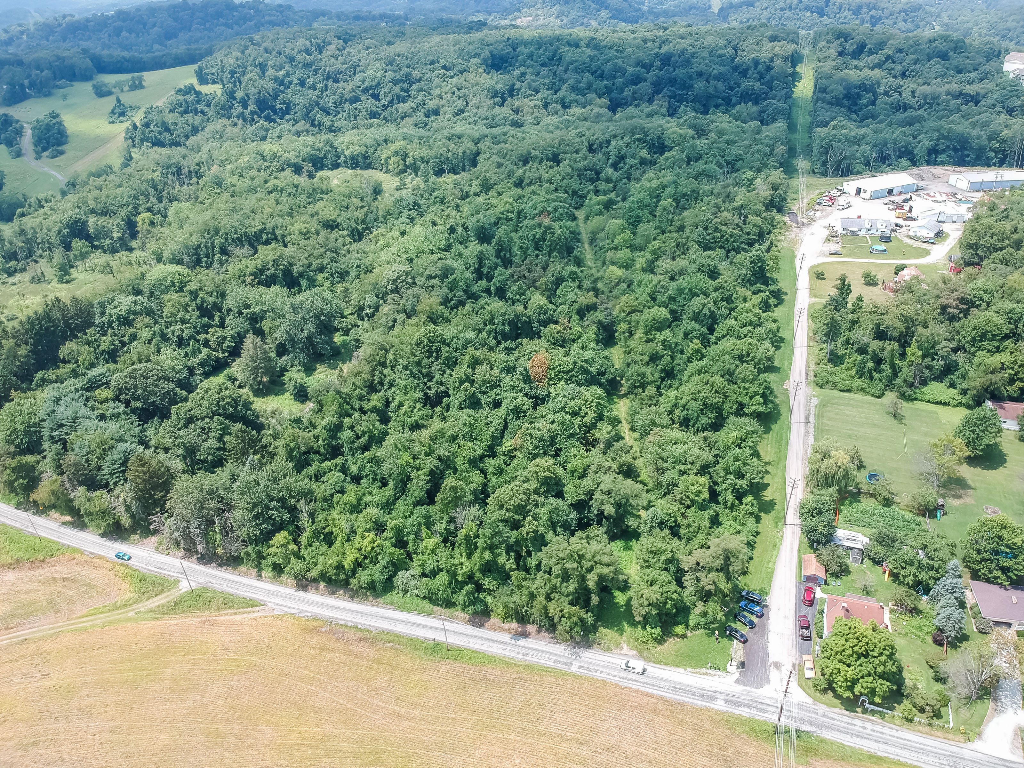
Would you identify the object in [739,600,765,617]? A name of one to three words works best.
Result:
car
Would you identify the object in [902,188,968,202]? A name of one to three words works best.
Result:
shed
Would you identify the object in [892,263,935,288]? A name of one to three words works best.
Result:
house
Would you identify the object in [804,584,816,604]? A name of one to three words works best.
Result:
vehicle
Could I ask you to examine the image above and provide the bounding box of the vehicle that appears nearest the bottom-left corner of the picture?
[111,549,134,562]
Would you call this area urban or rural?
rural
